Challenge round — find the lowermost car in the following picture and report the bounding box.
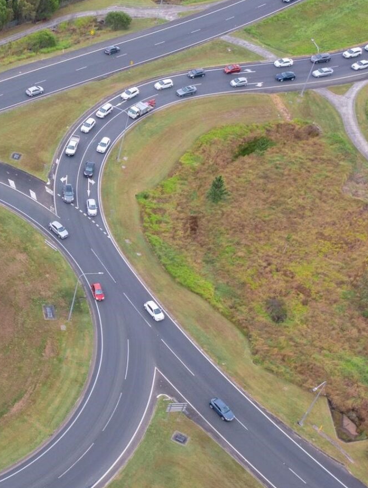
[209,398,235,422]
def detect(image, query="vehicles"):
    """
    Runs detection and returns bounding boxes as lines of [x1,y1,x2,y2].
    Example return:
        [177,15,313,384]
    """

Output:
[222,64,243,74]
[87,199,98,216]
[342,47,363,58]
[128,98,155,118]
[312,68,333,77]
[351,60,368,71]
[91,283,105,302]
[230,77,249,87]
[63,184,74,203]
[96,102,113,118]
[49,221,69,239]
[176,86,198,97]
[65,136,81,155]
[273,58,294,68]
[155,78,173,89]
[102,45,122,56]
[186,66,208,78]
[143,300,164,321]
[84,161,95,178]
[97,137,110,152]
[81,119,96,133]
[25,87,44,97]
[310,52,332,63]
[121,87,139,99]
[275,72,296,82]
[209,398,235,422]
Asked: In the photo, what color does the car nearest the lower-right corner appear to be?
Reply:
blue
